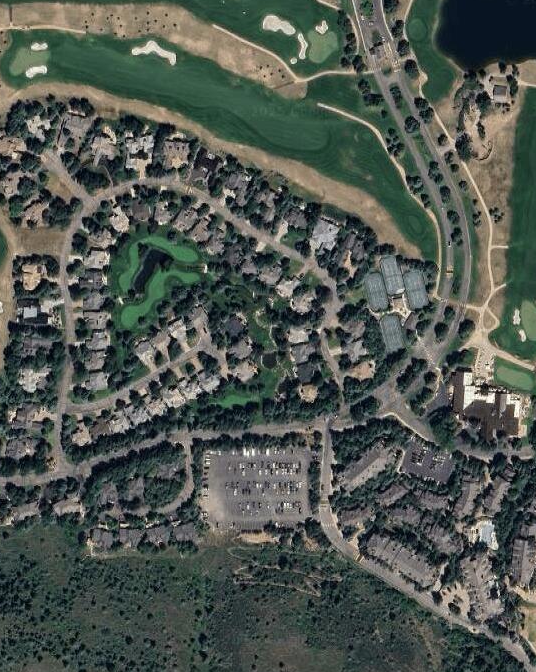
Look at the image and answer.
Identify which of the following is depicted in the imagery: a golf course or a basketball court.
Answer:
golf course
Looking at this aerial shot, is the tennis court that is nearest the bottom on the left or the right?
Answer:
right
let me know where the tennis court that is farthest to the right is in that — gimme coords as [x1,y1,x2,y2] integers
[402,270,430,312]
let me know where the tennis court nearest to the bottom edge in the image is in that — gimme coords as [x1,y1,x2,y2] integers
[379,314,405,355]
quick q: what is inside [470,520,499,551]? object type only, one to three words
swimming pool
